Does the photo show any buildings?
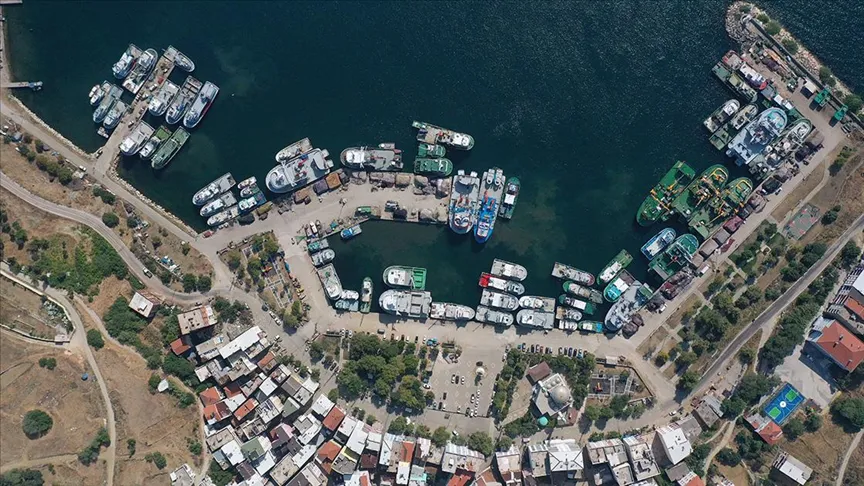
Yes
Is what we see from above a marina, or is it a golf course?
marina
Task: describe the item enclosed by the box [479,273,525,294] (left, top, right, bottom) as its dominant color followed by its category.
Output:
white boat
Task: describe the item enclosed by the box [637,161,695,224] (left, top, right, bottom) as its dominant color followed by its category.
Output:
green boat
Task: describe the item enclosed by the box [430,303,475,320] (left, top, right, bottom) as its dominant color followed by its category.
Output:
white boat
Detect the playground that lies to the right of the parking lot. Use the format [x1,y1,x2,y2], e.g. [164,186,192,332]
[584,369,637,404]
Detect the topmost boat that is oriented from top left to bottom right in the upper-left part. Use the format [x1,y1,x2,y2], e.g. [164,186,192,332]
[165,50,194,73]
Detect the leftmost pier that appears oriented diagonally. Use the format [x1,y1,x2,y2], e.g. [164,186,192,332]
[105,58,174,158]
